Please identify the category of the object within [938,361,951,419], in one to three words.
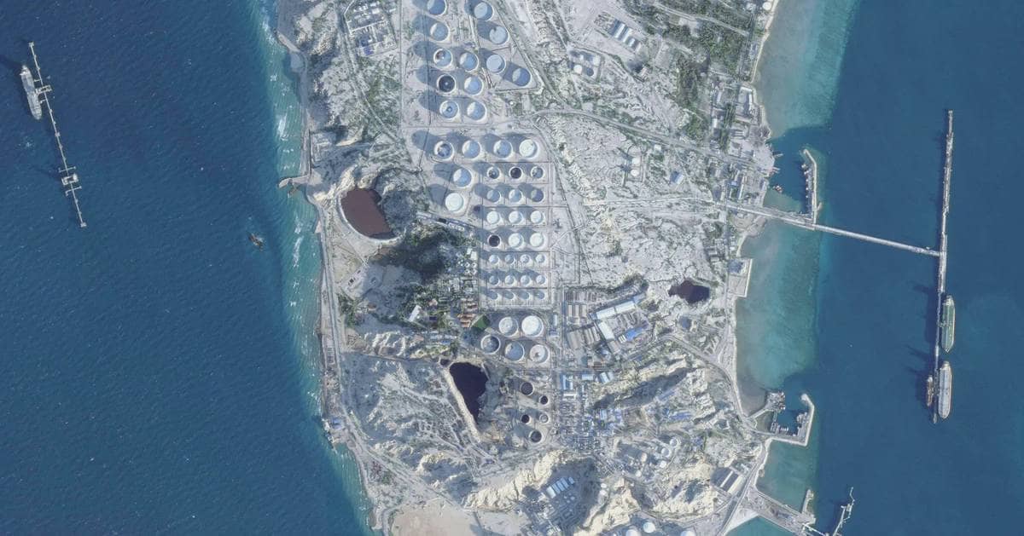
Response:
ship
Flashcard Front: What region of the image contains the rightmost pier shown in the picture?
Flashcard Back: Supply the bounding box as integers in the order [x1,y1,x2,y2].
[933,110,953,420]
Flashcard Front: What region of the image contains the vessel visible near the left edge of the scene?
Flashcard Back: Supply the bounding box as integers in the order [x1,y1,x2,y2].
[18,65,40,119]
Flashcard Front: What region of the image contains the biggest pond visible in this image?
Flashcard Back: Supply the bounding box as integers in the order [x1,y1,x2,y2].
[339,184,397,241]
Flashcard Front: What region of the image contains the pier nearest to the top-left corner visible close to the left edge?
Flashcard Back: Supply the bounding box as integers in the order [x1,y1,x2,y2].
[28,41,86,227]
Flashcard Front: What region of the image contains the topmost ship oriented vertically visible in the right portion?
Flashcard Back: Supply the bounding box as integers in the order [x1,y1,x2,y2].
[942,296,955,352]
